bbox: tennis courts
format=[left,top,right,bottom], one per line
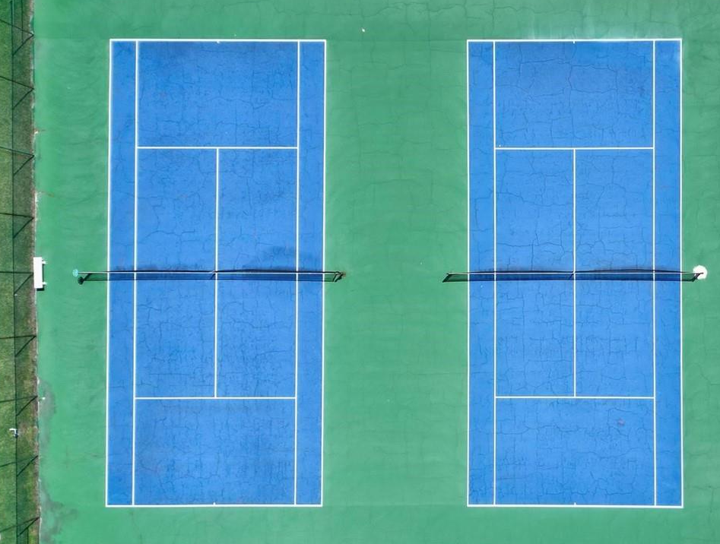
[106,39,326,507]
[467,38,683,508]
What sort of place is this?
sports ground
